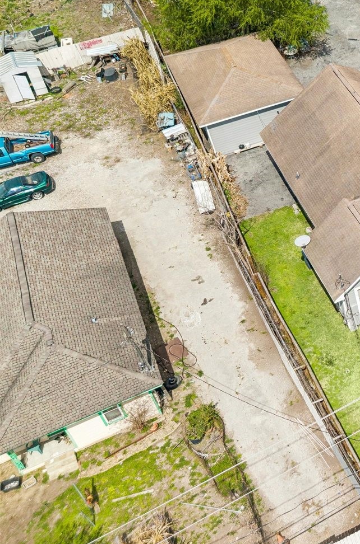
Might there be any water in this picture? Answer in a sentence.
No, the scene doesn't show any water.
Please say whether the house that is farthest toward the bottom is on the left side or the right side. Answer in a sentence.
The house that is farthest toward the bottom sits on the left side.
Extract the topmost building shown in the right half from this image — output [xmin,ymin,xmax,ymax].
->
[157,30,305,153]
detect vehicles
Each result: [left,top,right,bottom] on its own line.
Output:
[0,129,56,166]
[0,165,54,205]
